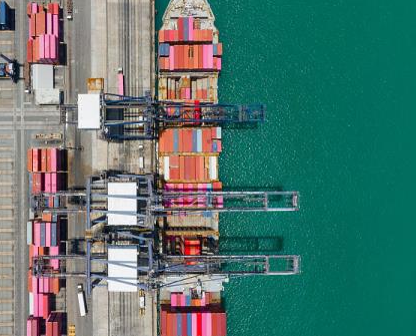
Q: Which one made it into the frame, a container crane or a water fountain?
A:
container crane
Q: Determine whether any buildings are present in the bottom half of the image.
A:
No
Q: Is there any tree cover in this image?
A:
No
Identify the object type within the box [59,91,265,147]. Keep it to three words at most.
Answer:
container crane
